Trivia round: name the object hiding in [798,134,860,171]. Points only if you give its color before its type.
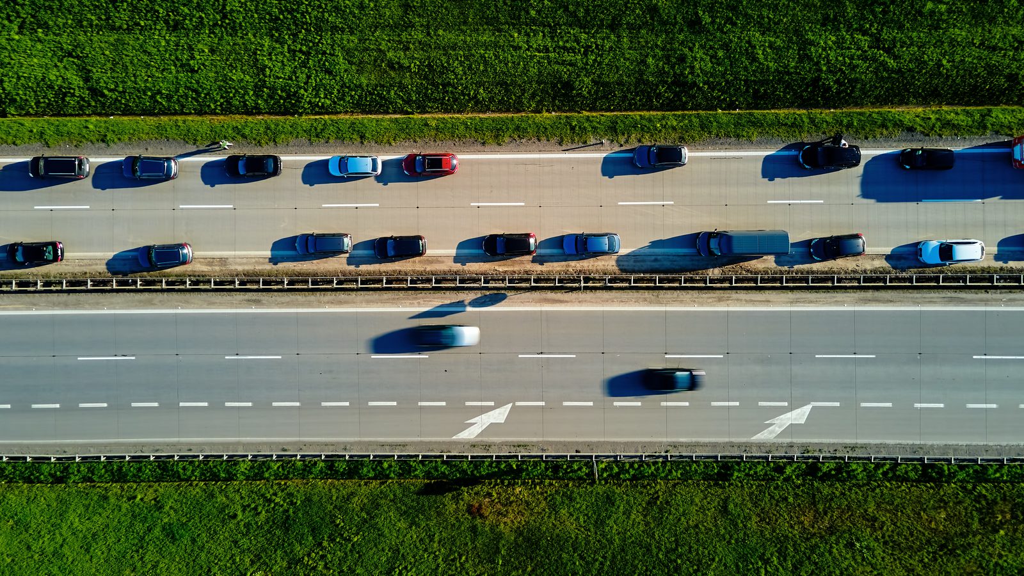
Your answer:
black car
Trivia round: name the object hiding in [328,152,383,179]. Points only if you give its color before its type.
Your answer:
blue car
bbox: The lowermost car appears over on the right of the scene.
[643,367,704,394]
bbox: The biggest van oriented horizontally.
[693,227,790,260]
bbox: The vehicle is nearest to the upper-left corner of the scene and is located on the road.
[27,153,92,181]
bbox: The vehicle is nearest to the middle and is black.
[482,231,537,258]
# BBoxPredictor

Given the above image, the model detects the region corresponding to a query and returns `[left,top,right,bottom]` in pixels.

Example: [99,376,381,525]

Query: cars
[27,153,92,181]
[798,134,860,171]
[225,152,283,178]
[374,234,427,260]
[899,145,958,172]
[136,242,195,269]
[633,142,688,169]
[916,237,984,265]
[563,231,621,257]
[482,231,537,258]
[808,234,866,262]
[643,367,704,394]
[121,153,181,181]
[328,152,383,179]
[420,323,480,350]
[6,239,67,267]
[295,231,354,257]
[402,150,459,178]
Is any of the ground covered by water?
No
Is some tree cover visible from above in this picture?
No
